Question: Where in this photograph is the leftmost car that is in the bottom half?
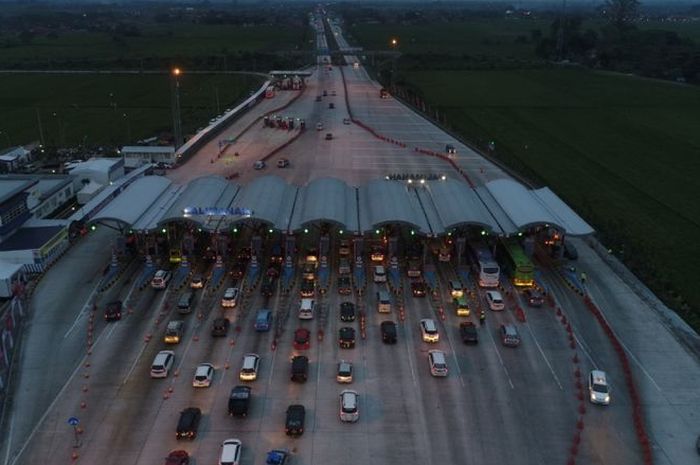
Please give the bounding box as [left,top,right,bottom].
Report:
[100,302,125,323]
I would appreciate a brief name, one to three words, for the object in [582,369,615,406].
car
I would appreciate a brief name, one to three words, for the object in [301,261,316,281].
vehicle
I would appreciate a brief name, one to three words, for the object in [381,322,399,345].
car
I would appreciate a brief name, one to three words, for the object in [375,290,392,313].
vehicle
